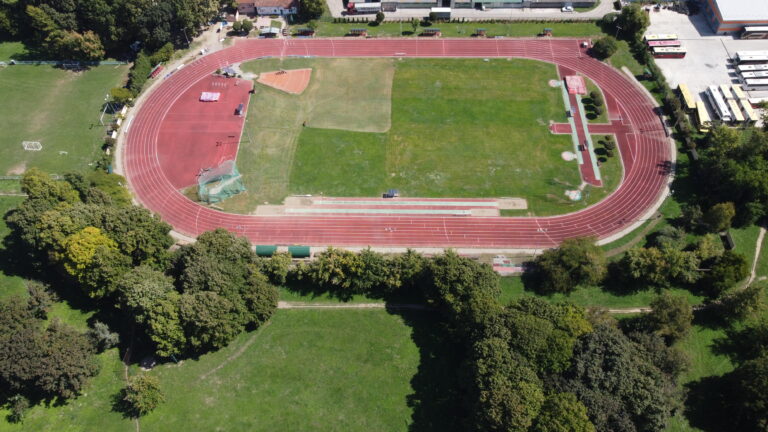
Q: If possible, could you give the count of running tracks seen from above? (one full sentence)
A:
The picture shows just 1 running track.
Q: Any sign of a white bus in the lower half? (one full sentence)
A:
No, no white bus is visible in the lower half.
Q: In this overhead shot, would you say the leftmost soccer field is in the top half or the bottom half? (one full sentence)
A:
The top half of the photo is where the leftmost soccer field is.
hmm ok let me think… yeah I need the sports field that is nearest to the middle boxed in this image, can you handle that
[181,57,622,215]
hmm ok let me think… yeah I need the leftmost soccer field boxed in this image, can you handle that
[0,64,127,179]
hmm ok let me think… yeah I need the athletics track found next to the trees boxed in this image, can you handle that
[123,39,671,248]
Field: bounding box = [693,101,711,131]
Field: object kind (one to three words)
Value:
vehicle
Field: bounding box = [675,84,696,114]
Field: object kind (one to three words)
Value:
bus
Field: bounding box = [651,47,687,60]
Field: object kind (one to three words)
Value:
vehicle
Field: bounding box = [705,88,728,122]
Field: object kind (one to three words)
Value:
bus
